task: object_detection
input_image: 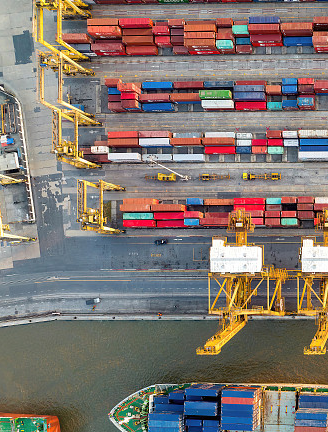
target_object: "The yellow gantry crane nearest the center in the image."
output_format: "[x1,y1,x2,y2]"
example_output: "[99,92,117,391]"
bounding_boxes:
[80,179,128,235]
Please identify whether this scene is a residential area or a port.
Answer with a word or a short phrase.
port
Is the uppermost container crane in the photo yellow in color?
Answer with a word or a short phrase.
Yes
